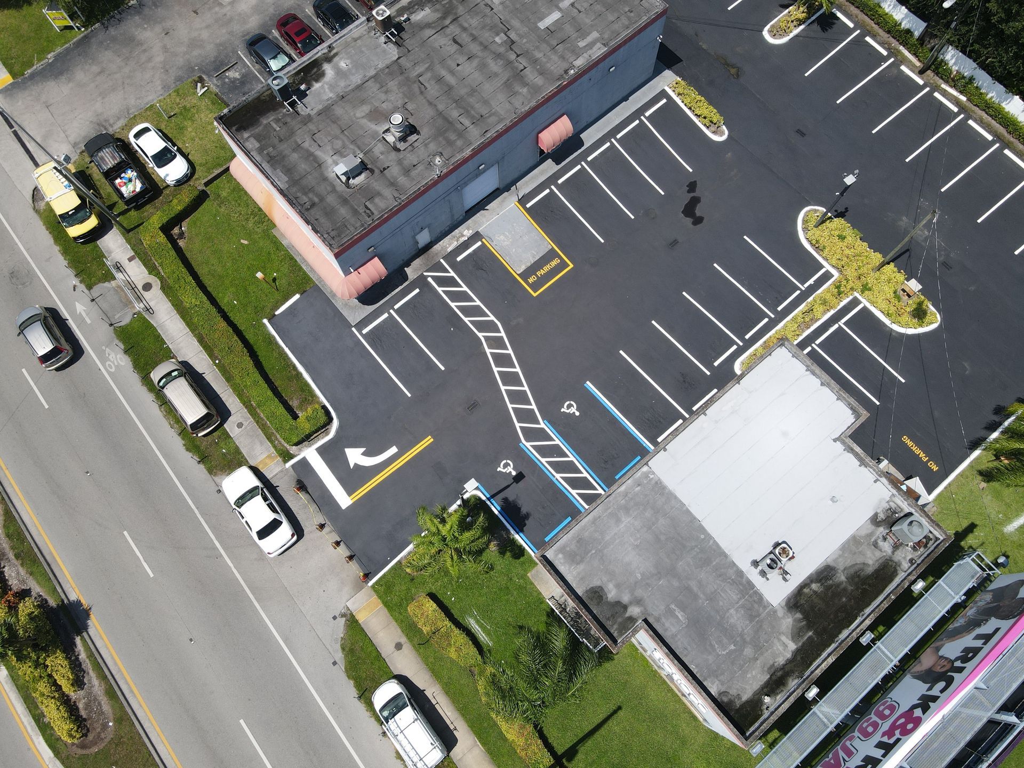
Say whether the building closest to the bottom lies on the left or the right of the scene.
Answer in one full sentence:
The building closest to the bottom is on the right side of the image.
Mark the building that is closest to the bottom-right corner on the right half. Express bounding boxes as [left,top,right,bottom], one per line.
[532,336,954,750]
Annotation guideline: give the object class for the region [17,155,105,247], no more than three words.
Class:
vehicle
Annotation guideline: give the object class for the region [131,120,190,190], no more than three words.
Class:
car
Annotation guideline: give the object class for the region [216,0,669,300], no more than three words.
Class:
building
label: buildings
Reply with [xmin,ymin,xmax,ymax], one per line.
[532,336,954,750]
[216,0,669,300]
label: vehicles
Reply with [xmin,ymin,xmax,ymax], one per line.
[18,304,74,374]
[131,120,190,190]
[280,11,325,51]
[248,32,293,73]
[221,463,300,558]
[369,0,382,7]
[87,134,159,219]
[153,358,224,442]
[315,0,353,31]
[17,155,105,247]
[374,675,454,768]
